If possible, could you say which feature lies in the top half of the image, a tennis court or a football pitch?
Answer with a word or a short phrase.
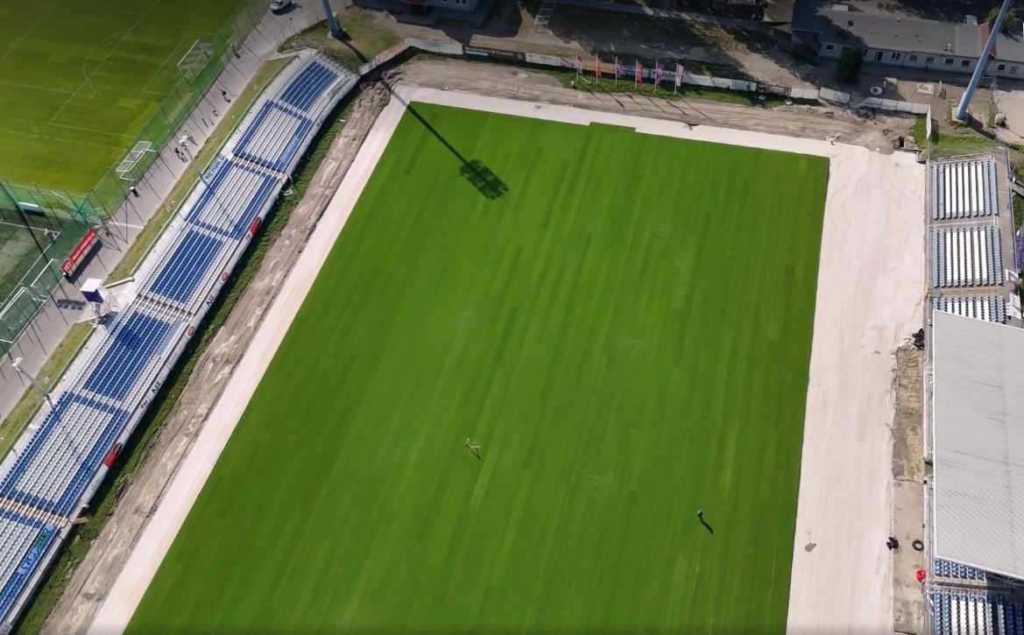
football pitch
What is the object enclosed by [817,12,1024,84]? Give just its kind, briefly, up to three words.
building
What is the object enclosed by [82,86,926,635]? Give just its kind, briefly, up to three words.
sports field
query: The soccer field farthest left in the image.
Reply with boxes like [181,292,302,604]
[0,210,94,351]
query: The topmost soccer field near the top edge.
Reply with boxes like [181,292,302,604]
[0,0,249,207]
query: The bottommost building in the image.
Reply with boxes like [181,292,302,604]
[79,278,118,325]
